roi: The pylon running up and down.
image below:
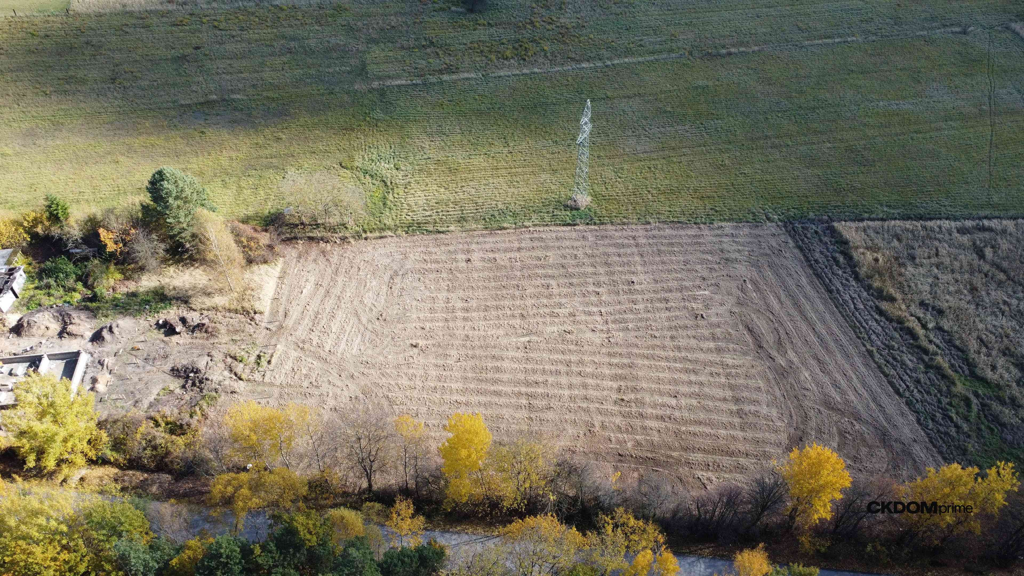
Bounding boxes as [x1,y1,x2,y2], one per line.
[572,97,594,205]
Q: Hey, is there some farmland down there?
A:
Yes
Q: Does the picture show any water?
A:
No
